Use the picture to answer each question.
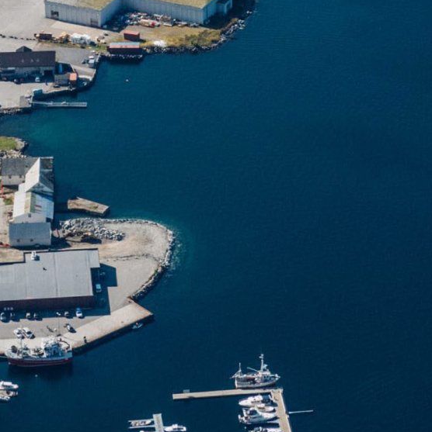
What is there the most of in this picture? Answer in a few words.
water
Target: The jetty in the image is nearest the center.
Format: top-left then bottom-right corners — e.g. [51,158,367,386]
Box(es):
[68,198,109,217]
